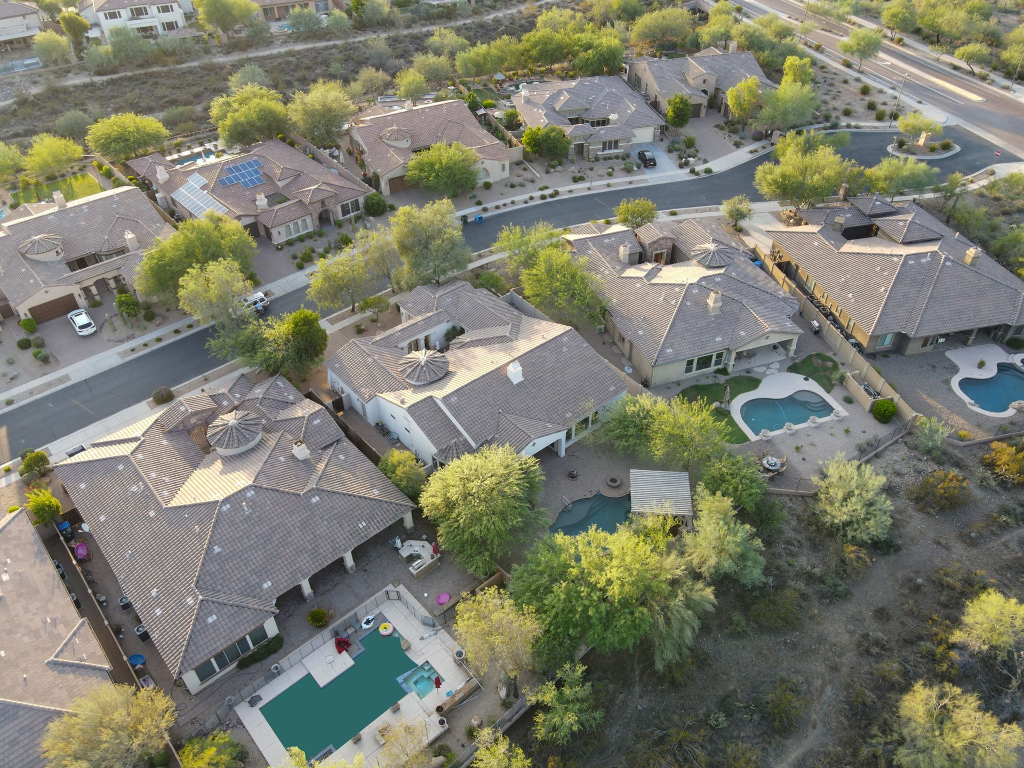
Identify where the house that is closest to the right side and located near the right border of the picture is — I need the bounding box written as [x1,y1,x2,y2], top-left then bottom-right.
[764,192,1024,355]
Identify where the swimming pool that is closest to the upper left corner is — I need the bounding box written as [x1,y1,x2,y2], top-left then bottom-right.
[0,56,42,76]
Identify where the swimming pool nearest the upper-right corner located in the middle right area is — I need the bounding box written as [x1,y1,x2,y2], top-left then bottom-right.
[944,344,1024,419]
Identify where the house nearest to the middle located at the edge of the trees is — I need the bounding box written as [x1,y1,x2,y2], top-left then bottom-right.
[323,279,629,473]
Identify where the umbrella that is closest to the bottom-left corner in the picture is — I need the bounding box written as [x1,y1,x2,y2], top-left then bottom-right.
[328,635,355,657]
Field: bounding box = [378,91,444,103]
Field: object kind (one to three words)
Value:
swimming pool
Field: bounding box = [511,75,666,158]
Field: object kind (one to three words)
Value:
house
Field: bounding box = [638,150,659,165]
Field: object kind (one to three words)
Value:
car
